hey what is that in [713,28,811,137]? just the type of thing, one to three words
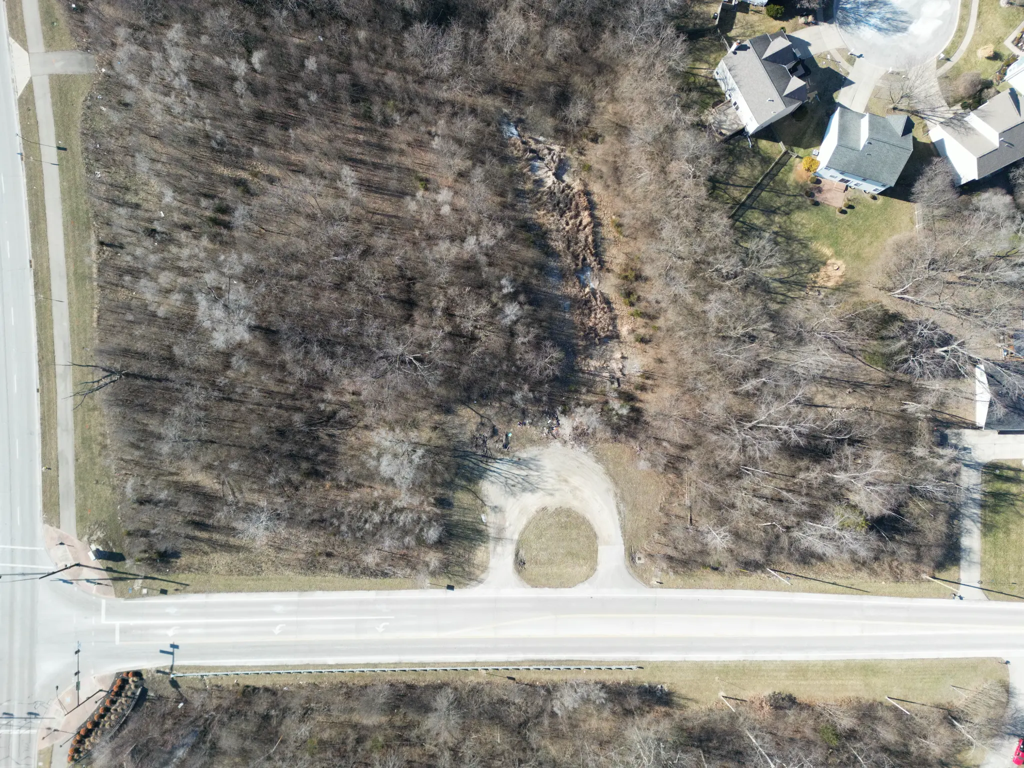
house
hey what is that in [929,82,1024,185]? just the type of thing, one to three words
house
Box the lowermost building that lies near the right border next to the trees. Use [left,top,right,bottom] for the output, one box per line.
[975,363,1024,430]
